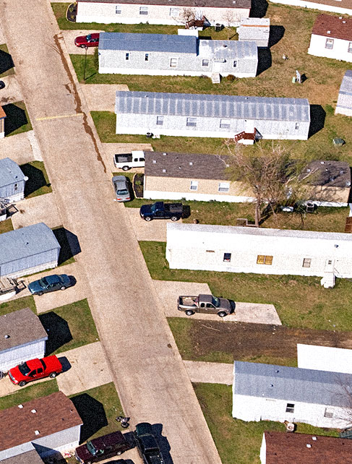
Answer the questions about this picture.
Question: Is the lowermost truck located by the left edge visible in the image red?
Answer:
Yes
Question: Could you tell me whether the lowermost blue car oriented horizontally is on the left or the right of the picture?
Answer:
left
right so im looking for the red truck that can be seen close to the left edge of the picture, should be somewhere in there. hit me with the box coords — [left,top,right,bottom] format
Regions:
[8,354,63,386]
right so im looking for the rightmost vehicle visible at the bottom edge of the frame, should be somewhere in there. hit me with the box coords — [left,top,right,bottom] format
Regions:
[135,426,169,464]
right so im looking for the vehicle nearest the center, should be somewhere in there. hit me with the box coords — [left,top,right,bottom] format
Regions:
[137,201,187,224]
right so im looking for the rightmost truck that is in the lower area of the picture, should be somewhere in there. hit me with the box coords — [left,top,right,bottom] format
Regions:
[178,295,231,317]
